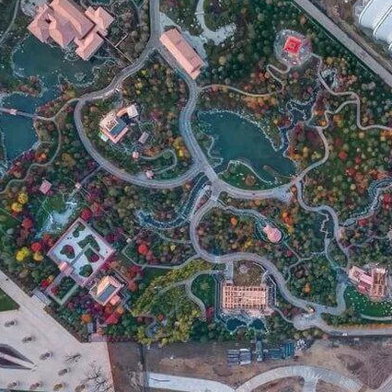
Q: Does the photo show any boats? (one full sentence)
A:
No, no boat is visible in the scene.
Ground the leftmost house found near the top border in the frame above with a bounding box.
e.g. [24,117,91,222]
[26,0,117,61]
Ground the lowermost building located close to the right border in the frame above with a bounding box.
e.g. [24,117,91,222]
[347,263,384,295]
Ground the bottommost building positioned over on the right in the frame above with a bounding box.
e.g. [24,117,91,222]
[222,283,269,309]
